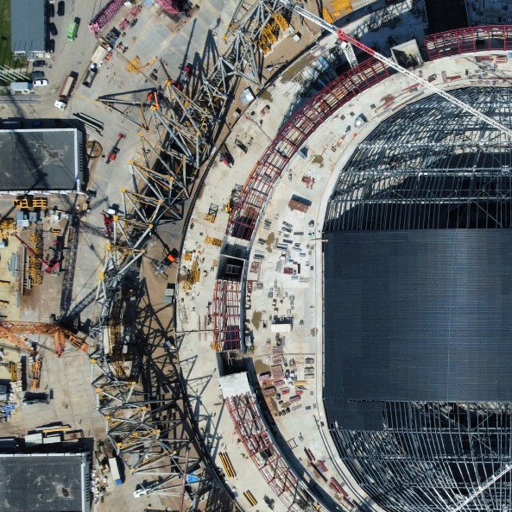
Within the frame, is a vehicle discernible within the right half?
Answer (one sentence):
No, there is no vehicle within the right half.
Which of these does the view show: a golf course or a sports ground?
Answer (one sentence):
This looks like a sports ground.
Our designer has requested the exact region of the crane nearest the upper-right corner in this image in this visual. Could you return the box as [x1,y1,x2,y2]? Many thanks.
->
[274,0,512,137]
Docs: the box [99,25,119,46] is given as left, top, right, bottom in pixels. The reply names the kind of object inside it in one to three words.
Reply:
vehicle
